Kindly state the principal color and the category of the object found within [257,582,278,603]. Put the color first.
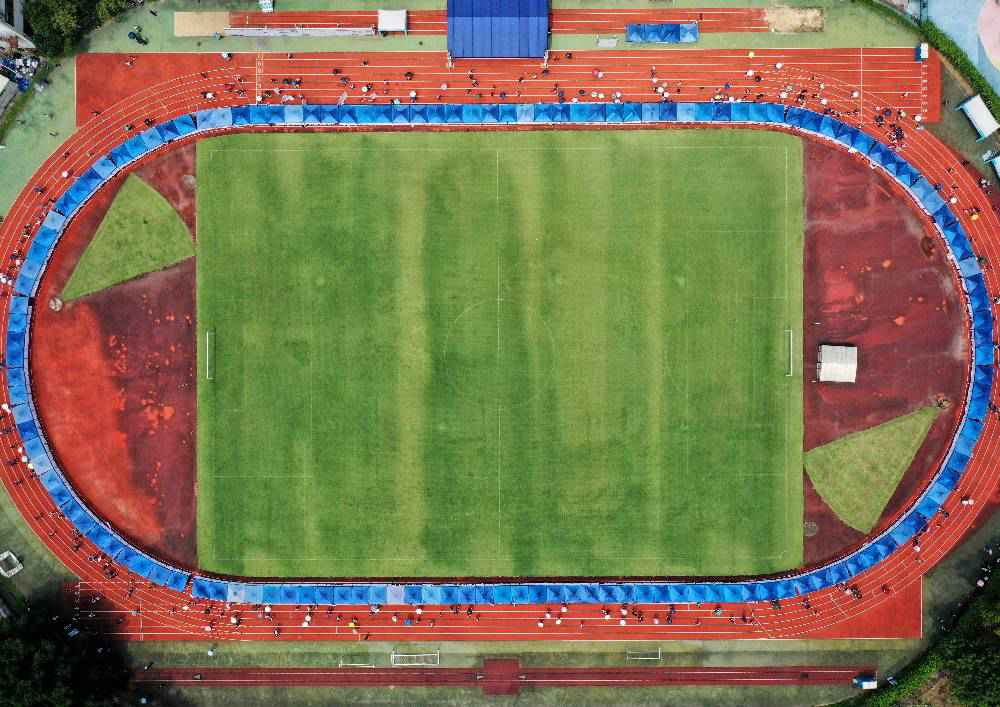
blue tent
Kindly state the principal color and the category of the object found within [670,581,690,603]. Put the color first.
blue tent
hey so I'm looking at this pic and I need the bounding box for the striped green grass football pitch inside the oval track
[195,132,804,577]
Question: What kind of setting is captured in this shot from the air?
sports ground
